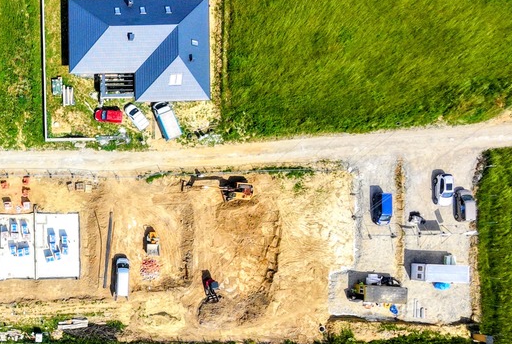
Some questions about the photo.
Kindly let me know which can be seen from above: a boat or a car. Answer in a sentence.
I can see a car in this picture.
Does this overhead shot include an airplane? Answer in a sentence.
No, there isn't any airplane down there.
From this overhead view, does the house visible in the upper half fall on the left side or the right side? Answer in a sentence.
It is on the left.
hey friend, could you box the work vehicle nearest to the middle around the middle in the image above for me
[191,184,259,202]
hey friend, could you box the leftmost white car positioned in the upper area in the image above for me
[124,103,149,133]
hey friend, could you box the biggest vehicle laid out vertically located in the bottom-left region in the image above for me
[114,256,130,299]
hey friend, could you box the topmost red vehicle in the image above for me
[94,108,124,123]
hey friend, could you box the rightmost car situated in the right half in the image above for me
[456,189,474,221]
